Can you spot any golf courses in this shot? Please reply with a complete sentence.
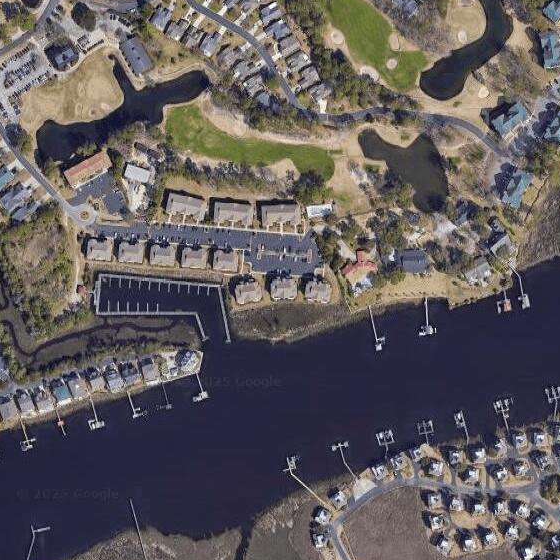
Yes, there is a golf course in the image.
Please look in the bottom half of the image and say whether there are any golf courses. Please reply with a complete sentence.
No, no golf course appears in the bottom half of the image.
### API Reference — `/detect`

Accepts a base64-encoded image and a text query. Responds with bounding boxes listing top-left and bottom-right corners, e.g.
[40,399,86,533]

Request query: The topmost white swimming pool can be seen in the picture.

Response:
[307,203,333,217]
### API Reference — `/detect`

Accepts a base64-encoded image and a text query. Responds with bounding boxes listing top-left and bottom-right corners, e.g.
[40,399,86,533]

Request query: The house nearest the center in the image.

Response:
[271,279,297,299]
